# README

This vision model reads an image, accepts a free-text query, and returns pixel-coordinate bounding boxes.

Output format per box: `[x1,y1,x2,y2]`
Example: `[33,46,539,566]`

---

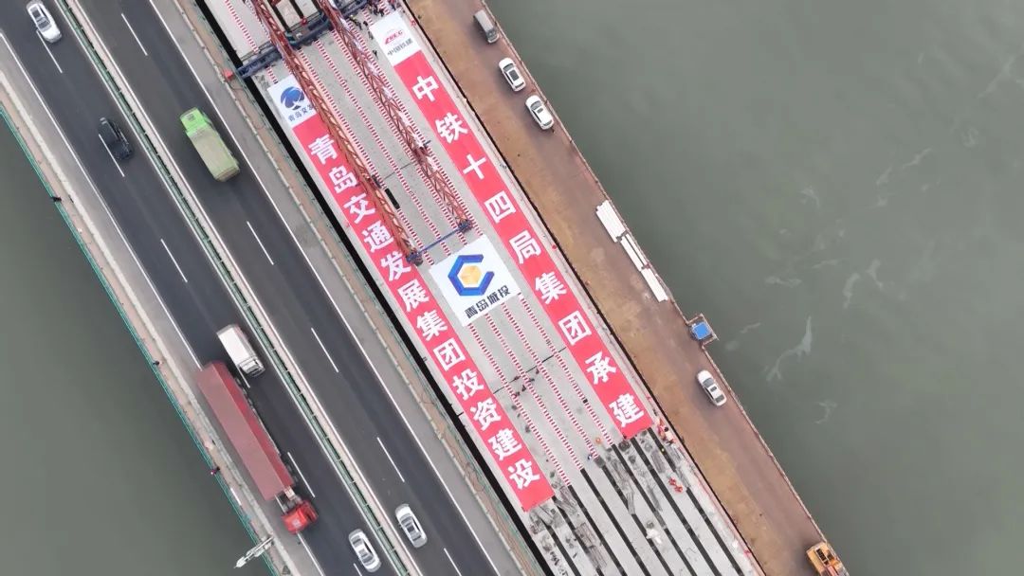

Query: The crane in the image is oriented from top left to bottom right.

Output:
[240,0,476,267]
